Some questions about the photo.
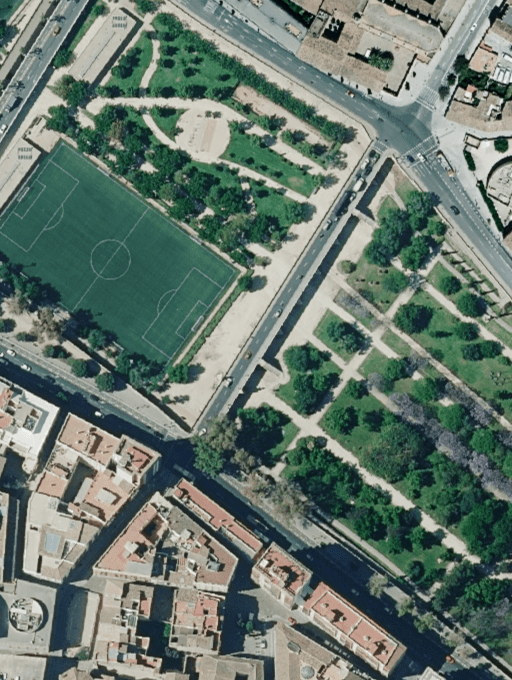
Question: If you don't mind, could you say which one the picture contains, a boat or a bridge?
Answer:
bridge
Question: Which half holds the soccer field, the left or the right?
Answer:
left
